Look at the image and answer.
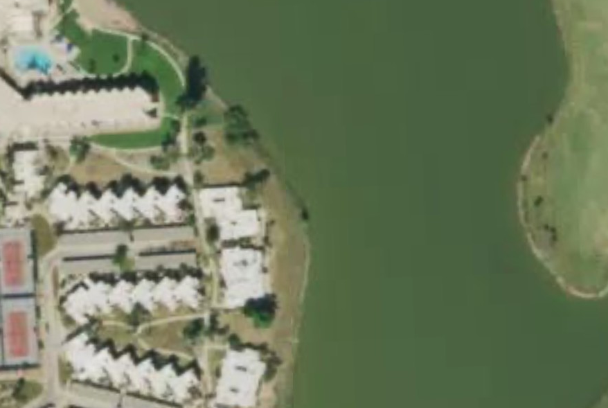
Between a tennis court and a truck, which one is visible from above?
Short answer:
tennis court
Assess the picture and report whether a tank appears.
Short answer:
No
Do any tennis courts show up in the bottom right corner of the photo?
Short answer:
No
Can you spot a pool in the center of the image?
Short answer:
No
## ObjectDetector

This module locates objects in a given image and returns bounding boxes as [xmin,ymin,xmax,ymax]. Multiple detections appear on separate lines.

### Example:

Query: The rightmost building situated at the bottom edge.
[216,347,265,404]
